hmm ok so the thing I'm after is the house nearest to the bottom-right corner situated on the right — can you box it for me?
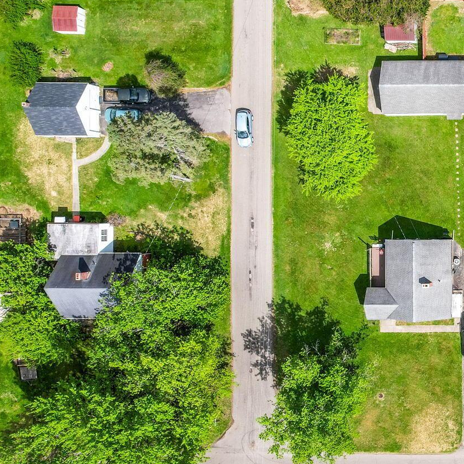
[359,239,463,325]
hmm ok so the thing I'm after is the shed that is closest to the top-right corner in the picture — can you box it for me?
[383,19,419,45]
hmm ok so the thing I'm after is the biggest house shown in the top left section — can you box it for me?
[16,81,100,137]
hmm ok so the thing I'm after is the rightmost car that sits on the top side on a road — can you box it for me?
[233,108,255,147]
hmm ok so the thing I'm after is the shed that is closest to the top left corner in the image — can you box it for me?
[48,6,89,34]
